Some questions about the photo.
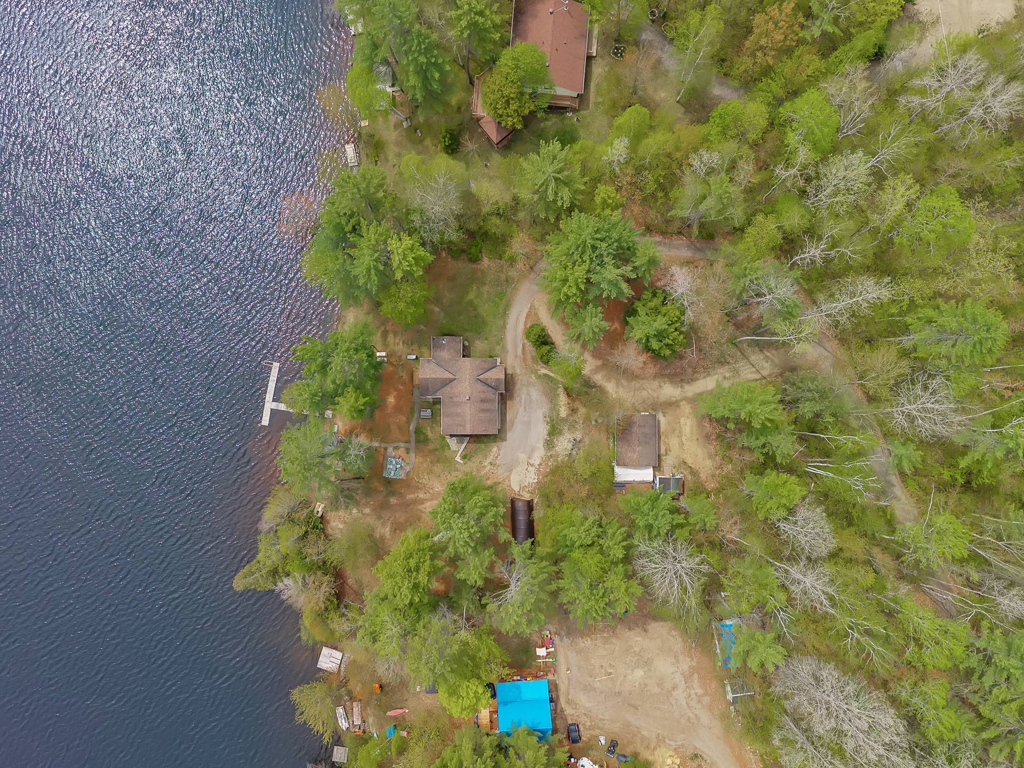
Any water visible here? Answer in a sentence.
Yes, water can be seen from above here.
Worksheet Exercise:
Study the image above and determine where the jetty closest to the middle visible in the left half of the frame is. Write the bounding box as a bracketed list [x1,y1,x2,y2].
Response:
[261,362,307,425]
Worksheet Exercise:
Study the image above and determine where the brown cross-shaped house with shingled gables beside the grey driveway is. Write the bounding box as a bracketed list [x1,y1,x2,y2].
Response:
[412,336,505,440]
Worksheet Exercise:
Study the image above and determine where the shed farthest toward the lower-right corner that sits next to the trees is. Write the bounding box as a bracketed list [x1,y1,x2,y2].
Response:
[656,476,684,494]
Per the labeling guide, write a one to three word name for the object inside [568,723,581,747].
vehicle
